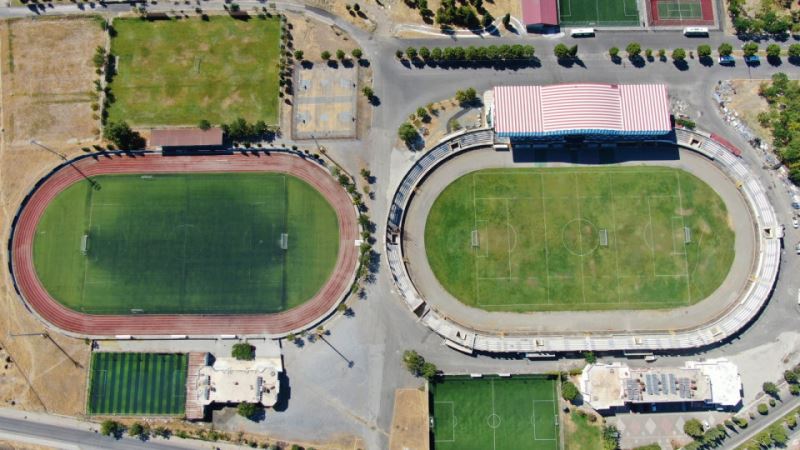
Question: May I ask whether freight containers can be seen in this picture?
No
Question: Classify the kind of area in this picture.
sports ground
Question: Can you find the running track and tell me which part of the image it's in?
left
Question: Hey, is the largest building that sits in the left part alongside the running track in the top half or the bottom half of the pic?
bottom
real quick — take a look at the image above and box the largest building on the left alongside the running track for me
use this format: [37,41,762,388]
[197,356,287,405]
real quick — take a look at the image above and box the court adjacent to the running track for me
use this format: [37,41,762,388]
[293,66,356,138]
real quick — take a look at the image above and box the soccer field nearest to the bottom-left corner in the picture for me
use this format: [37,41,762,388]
[89,352,188,414]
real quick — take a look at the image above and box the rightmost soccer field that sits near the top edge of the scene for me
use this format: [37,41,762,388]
[559,0,640,26]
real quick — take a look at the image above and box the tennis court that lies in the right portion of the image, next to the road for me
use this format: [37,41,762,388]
[646,0,716,25]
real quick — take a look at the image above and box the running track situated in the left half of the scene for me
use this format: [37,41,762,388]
[9,151,363,338]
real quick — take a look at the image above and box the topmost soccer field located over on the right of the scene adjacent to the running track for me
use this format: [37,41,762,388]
[425,166,735,312]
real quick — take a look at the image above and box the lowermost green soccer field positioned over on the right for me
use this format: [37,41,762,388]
[431,376,560,450]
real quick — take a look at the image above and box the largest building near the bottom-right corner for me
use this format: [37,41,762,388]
[574,357,742,409]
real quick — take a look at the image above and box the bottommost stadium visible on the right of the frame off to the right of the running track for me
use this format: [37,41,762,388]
[385,126,784,352]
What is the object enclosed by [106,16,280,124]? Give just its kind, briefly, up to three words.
soccer field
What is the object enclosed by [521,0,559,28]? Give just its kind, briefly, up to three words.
building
